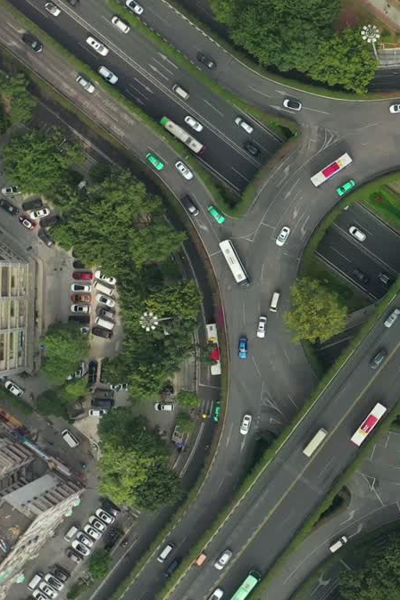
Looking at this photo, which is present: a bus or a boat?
bus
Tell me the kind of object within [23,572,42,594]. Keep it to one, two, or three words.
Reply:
vehicle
